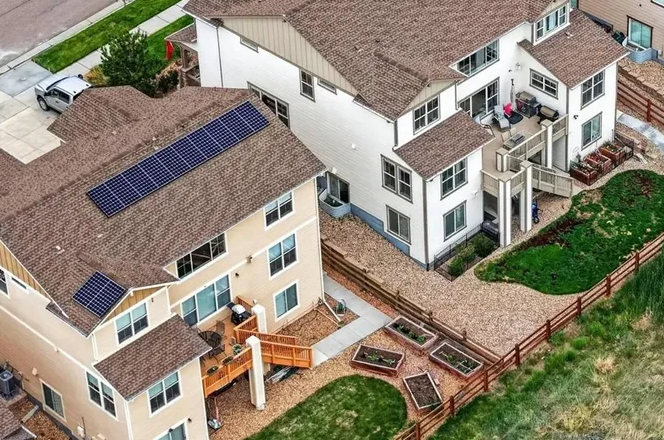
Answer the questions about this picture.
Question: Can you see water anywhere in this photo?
No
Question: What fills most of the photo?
buildings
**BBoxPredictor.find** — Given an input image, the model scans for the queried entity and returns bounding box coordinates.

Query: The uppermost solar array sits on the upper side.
[88,101,269,214]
